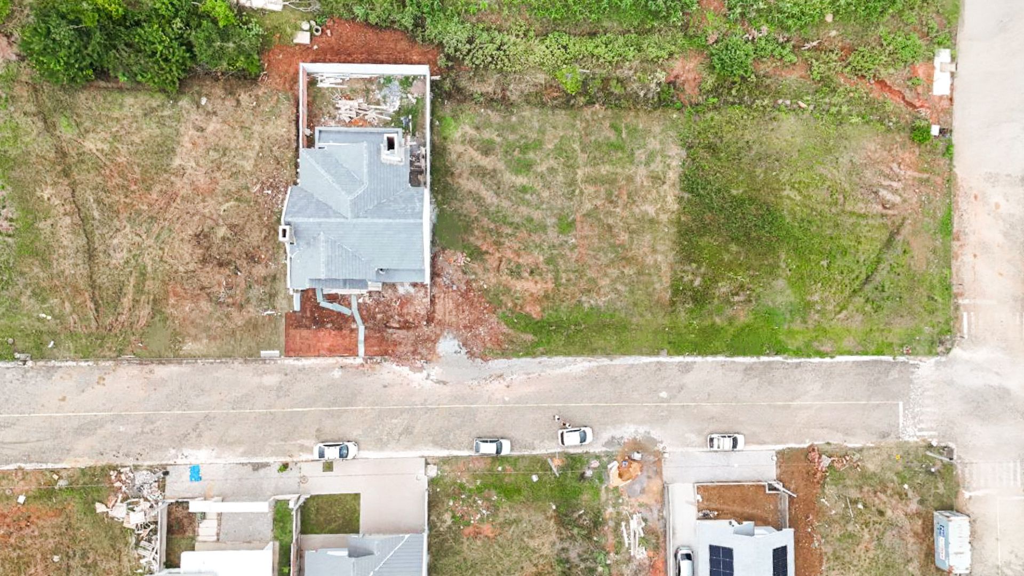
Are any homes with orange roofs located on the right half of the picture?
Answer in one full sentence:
No, I see no home with an orange roof on the right half of the picture.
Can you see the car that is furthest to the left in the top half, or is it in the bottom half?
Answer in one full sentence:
You can find the car that is furthest to the left in the bottom half.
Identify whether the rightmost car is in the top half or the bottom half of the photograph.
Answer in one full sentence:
The rightmost car sits in the bottom half of the picture.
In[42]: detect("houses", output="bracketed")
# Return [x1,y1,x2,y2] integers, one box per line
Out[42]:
[279,127,430,293]
[293,533,424,576]
[158,540,279,576]
[694,519,796,576]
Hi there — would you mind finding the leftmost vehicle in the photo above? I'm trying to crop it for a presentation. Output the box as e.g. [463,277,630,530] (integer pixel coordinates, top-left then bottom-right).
[312,442,356,463]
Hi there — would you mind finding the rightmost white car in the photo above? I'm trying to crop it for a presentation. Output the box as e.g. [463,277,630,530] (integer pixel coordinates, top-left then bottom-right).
[709,434,746,455]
